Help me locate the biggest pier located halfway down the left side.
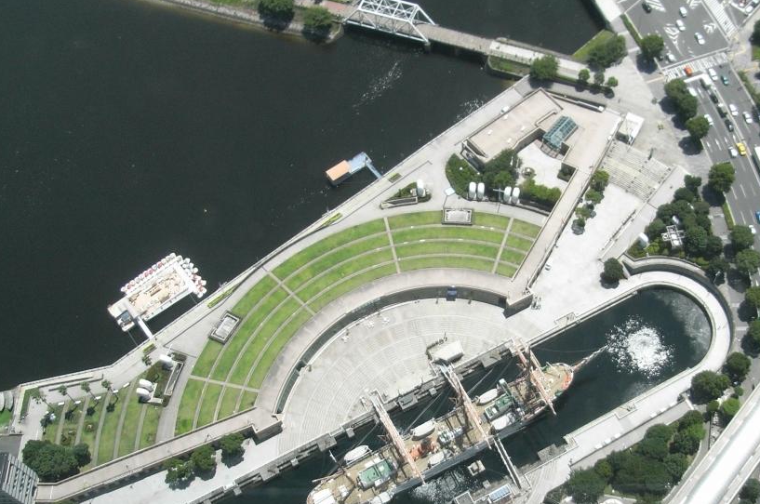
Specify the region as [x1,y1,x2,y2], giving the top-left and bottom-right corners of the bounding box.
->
[108,262,199,332]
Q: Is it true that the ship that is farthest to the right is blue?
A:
No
